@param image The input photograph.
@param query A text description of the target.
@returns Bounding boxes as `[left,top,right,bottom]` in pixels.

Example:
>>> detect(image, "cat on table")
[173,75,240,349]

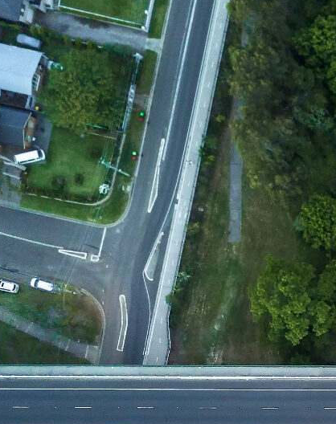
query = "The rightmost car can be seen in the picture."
[28,277,54,291]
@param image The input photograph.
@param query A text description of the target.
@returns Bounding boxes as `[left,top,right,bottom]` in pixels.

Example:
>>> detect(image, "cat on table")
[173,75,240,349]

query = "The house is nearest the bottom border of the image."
[0,106,37,150]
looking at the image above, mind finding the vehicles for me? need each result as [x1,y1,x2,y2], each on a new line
[12,147,44,164]
[0,280,17,292]
[15,31,40,46]
[28,277,54,291]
